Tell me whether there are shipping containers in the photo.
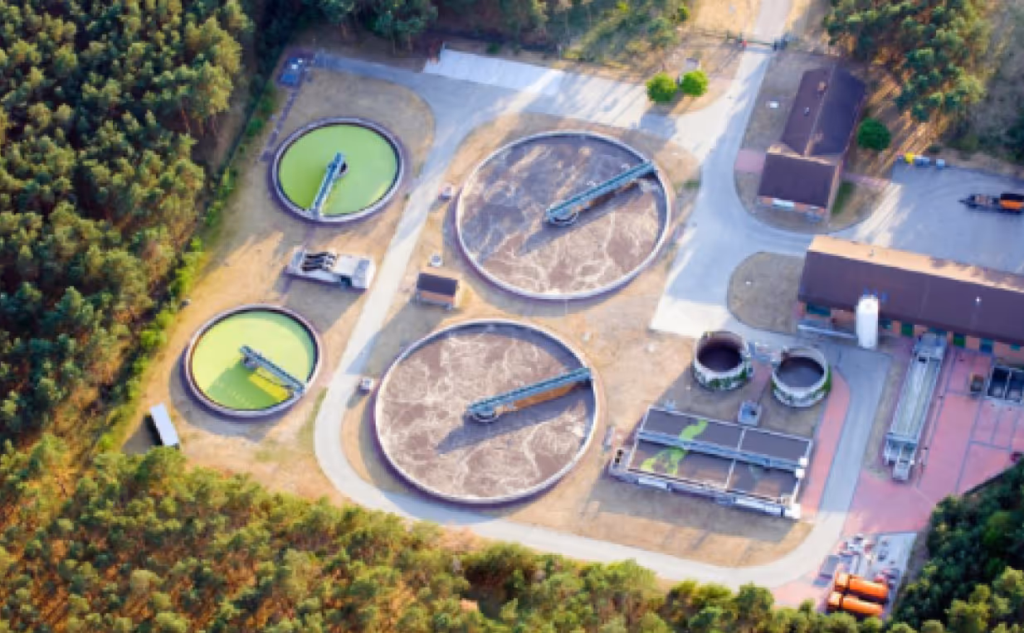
Yes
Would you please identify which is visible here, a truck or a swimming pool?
truck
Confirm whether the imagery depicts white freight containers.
Yes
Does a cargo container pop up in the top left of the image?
No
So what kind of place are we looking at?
industrial area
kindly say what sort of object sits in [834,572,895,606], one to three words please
truck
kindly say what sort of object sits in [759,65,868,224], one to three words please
building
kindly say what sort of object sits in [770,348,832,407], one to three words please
storage tank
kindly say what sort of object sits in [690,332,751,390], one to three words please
storage tank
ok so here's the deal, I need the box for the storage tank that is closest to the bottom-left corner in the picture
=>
[180,306,329,426]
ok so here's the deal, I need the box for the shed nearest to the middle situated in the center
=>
[417,269,459,308]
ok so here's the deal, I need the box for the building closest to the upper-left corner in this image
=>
[290,237,376,292]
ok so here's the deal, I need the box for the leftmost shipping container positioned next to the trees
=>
[149,401,180,457]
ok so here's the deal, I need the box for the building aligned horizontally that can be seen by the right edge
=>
[794,235,1024,365]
